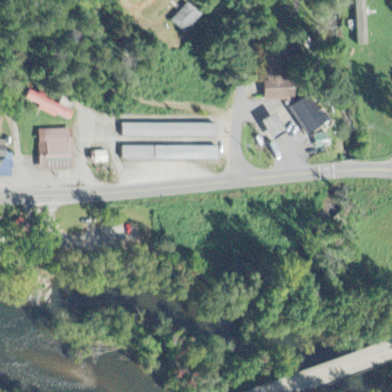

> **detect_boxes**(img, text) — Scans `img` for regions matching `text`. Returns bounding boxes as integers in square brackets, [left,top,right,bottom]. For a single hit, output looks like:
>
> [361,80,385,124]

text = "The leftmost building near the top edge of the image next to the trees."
[172,0,202,31]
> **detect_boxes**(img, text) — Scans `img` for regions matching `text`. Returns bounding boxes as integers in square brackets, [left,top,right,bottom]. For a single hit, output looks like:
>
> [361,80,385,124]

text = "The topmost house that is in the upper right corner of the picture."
[356,0,378,45]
